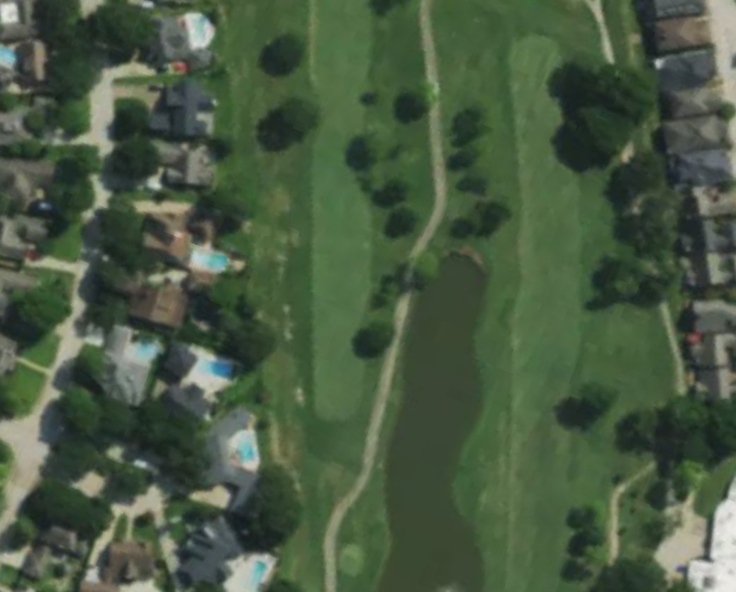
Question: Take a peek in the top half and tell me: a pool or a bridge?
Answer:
pool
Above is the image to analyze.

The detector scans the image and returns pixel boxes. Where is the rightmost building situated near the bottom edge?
[688,480,736,592]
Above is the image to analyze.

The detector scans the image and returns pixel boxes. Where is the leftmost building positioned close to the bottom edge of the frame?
[21,527,92,583]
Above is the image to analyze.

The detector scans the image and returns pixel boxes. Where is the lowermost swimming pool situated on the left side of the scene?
[224,552,277,592]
